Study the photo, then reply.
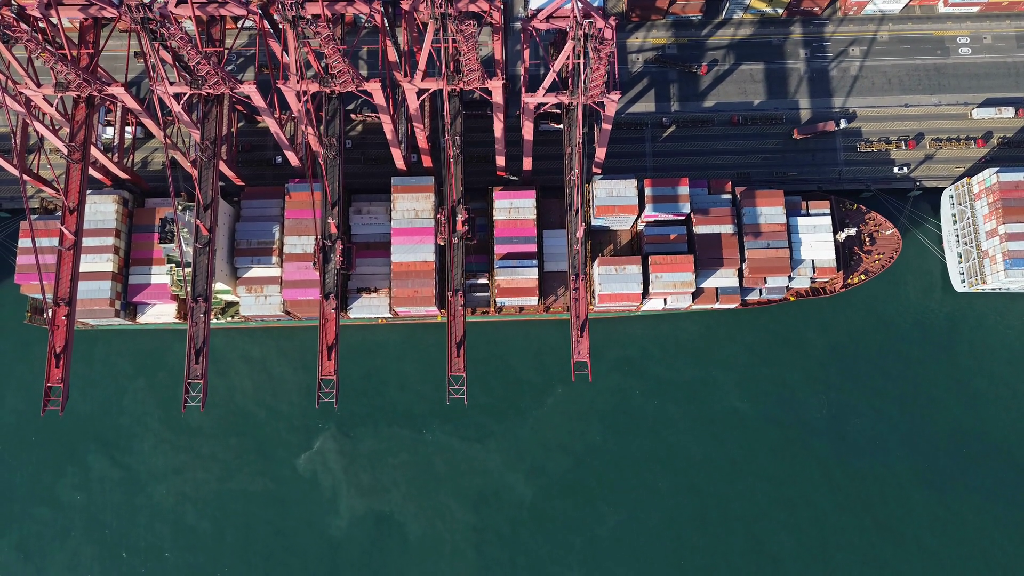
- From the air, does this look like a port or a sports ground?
port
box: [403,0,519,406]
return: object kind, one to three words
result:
container crane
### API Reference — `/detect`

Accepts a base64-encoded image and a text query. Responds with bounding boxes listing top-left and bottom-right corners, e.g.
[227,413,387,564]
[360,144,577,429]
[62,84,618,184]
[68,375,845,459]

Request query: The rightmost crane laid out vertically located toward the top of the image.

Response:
[517,0,623,381]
